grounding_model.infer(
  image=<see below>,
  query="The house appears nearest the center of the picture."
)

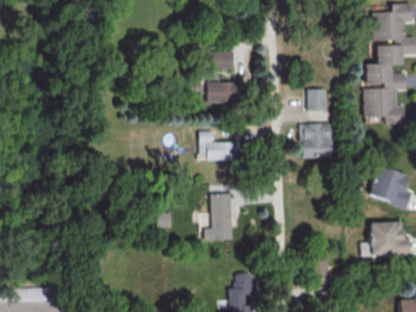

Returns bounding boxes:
[199,131,234,162]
